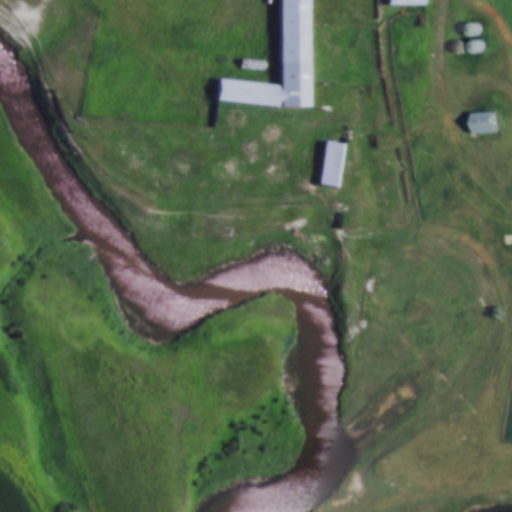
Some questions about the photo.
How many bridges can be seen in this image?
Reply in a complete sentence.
The count of bridges is 0.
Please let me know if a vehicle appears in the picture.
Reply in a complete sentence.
No, the frame has no vehicle in it.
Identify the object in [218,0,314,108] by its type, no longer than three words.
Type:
barn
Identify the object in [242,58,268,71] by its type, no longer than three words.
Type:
shed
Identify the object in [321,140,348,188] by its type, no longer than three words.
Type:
shed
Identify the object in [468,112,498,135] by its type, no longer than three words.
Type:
house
